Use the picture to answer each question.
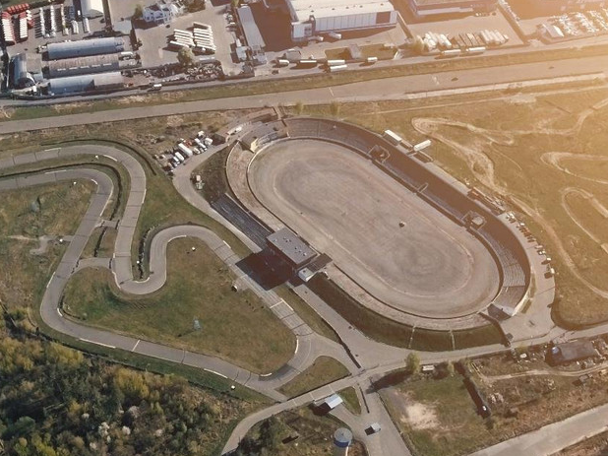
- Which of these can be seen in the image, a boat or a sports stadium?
sports stadium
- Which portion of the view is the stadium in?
center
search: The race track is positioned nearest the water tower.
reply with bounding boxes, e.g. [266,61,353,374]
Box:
[0,144,358,391]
